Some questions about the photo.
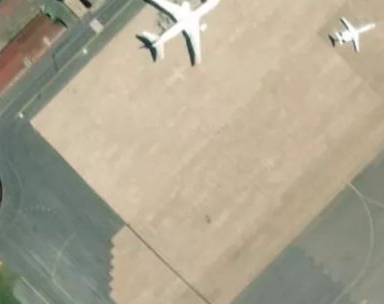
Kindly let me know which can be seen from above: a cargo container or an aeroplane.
aeroplane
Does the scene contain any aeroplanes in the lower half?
No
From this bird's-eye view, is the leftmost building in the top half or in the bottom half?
top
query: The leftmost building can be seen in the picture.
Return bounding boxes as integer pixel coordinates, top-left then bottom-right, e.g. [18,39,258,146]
[0,11,68,96]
